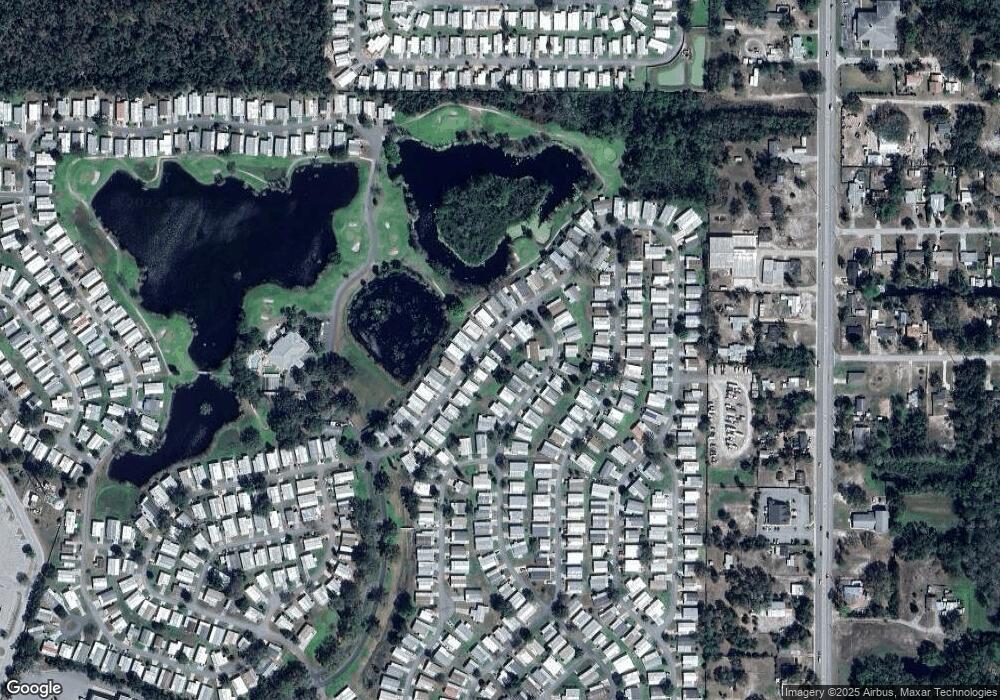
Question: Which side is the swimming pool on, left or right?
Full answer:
The swimming pool sits on the left side.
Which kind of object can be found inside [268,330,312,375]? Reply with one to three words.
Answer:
building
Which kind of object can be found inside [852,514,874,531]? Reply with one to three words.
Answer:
house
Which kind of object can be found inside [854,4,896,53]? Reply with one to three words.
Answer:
building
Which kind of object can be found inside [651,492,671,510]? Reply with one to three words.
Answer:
house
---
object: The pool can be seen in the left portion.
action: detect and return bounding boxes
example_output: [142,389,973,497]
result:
[247,350,268,371]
